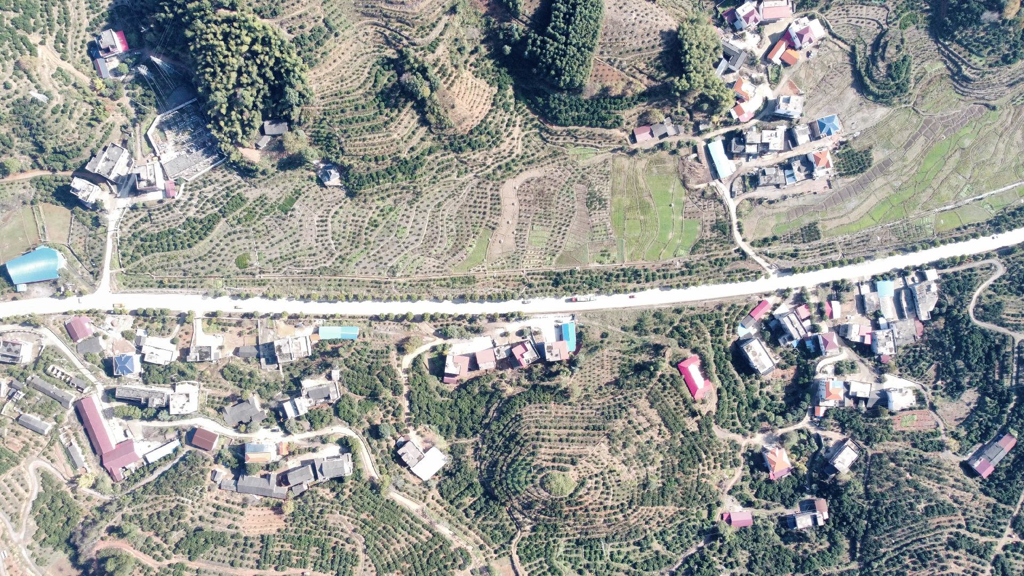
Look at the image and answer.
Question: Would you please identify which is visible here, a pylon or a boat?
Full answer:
This aerial view contains a pylon.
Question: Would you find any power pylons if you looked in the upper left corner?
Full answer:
Yes, a power pylon is visible in the upper left corner.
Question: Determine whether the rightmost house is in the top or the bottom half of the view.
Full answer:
The bottom half of the photo is where the rightmost house is.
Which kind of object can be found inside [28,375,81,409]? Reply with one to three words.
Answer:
barn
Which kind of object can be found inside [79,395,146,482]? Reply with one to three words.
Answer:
building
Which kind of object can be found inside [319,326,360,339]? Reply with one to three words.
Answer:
shed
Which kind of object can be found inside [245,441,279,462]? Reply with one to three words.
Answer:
house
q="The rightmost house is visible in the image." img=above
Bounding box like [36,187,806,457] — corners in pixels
[971,432,1016,478]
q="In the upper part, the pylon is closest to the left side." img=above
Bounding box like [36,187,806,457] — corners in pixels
[23,91,52,107]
